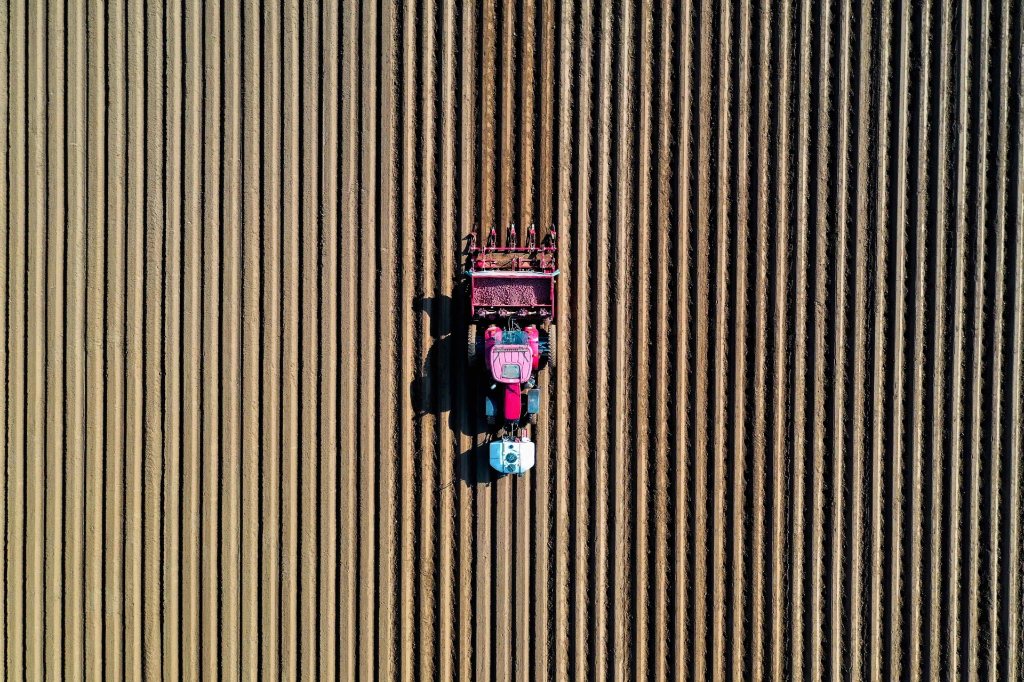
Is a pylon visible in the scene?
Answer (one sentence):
No, I find no pylon anywhere in the image.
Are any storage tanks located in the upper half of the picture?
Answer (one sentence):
No, there is no storage tank in the upper half of the picture.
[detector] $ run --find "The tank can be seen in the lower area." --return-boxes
[490,429,535,477]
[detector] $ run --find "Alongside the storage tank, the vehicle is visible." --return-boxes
[468,315,556,437]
